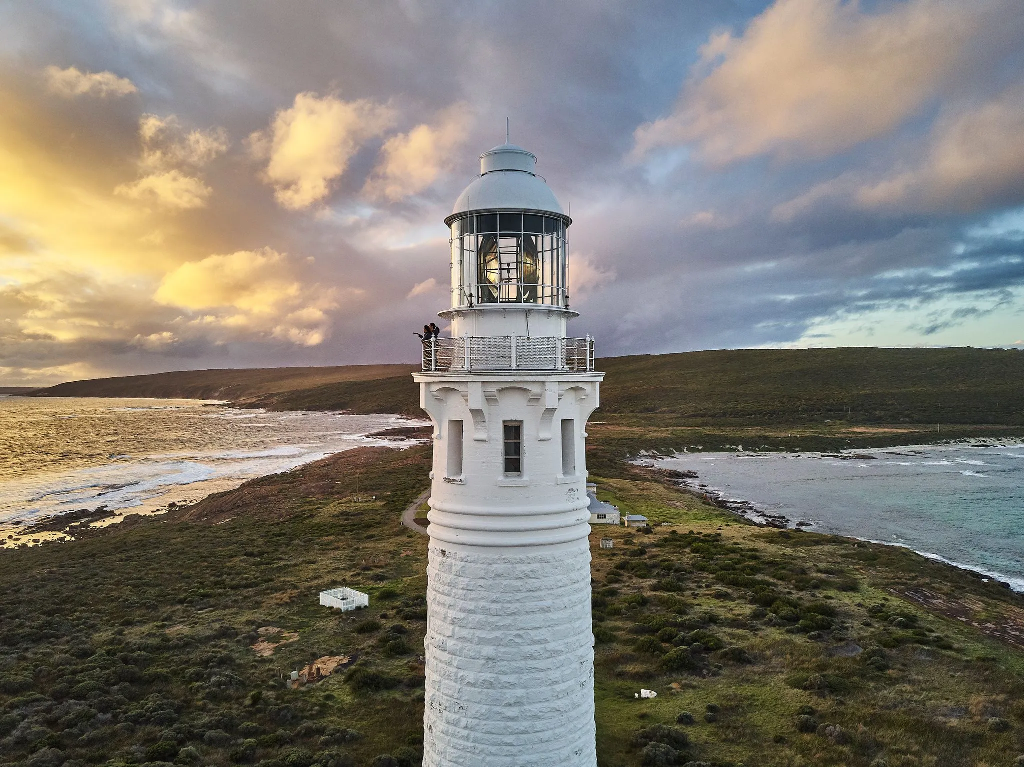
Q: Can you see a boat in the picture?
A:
No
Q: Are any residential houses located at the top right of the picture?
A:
No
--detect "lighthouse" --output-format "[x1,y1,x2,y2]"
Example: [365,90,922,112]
[411,116,607,767]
